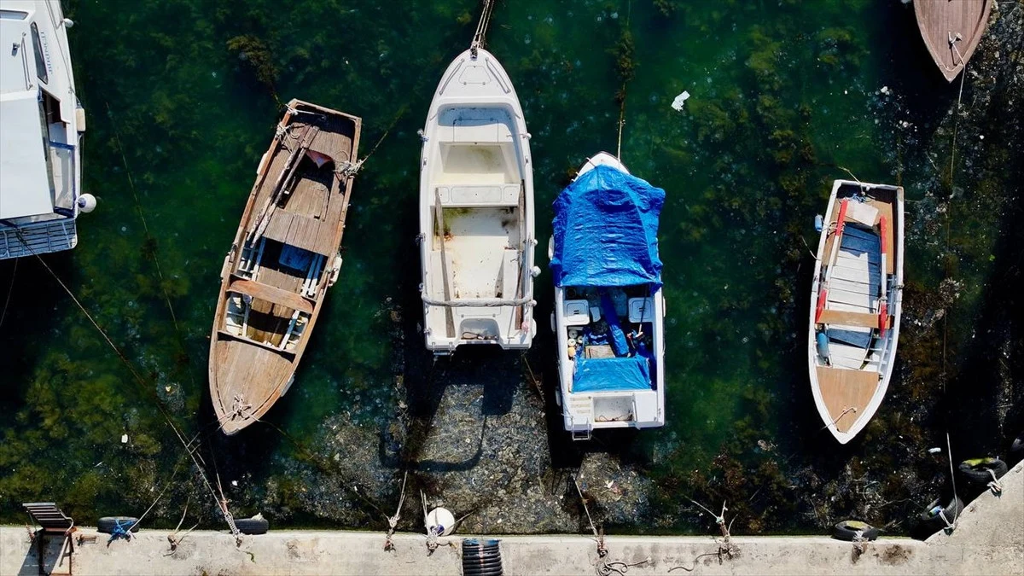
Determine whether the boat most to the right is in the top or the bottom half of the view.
top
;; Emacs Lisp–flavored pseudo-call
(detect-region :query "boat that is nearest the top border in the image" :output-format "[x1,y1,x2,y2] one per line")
[912,0,992,85]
